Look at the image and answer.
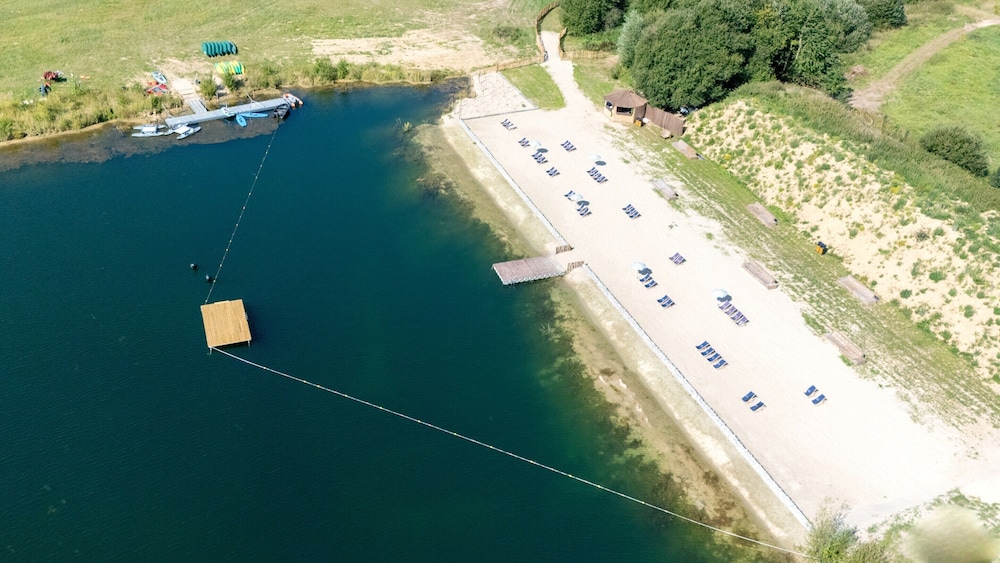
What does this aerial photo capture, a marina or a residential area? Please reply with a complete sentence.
This image shows a marina.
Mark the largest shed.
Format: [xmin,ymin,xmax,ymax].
[606,90,647,121]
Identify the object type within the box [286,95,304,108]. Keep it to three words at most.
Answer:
boat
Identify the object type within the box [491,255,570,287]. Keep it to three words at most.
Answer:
pier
